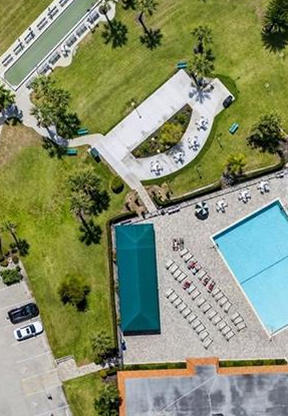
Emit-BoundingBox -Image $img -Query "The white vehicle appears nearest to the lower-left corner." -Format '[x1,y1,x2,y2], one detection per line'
[13,322,44,340]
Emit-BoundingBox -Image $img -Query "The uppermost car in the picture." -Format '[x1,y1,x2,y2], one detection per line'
[7,303,40,322]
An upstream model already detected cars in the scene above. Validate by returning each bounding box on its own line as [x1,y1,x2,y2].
[7,303,40,322]
[13,322,44,340]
